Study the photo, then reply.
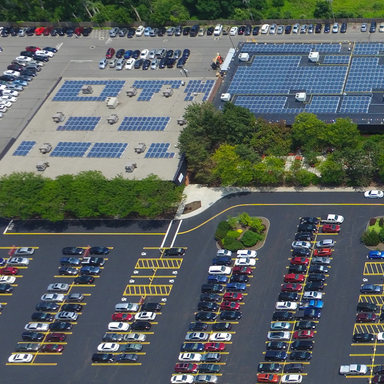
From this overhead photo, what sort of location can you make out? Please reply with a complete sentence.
This image shows a parking lot.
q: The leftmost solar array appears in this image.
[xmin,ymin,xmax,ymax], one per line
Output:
[12,141,38,156]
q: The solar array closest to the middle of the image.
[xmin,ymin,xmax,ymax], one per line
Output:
[143,143,177,158]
